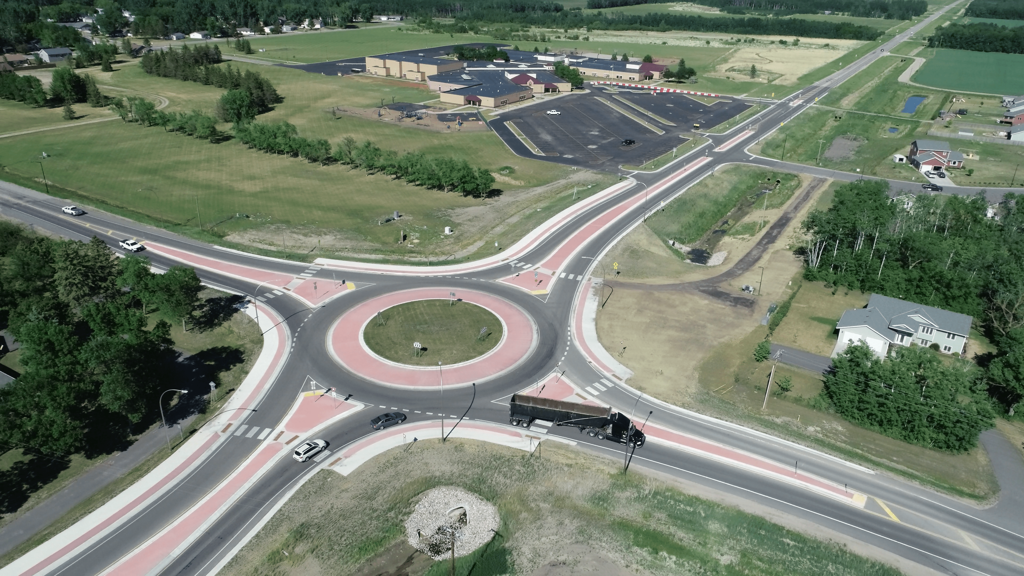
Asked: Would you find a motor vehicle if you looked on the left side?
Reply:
Yes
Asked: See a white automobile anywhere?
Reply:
Yes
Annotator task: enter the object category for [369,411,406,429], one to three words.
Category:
car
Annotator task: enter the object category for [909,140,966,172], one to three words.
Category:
house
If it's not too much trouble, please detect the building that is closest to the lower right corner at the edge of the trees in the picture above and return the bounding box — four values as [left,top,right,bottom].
[836,293,973,355]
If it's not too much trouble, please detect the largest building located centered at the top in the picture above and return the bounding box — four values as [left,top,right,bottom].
[366,50,665,109]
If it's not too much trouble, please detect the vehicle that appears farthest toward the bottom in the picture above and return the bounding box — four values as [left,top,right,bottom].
[292,438,328,462]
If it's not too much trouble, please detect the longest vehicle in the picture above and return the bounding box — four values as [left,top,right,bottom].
[506,397,645,447]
